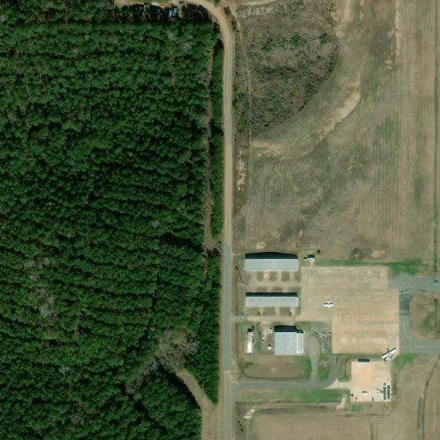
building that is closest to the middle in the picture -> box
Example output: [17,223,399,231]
[245,256,298,271]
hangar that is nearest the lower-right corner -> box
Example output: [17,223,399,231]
[275,331,304,355]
